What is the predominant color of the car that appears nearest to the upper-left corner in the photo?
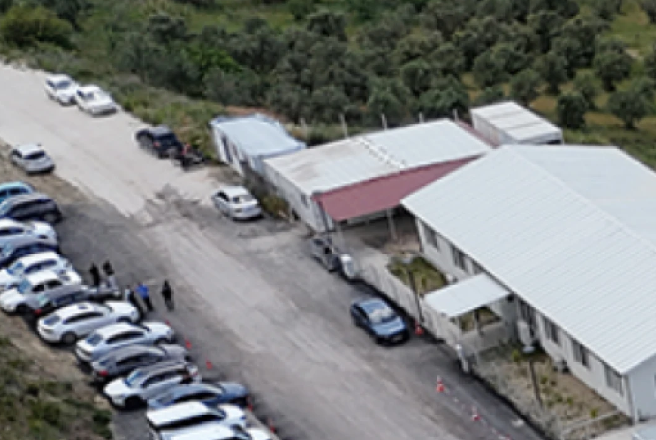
white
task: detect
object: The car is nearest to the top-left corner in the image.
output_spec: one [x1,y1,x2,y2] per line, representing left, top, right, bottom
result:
[37,76,83,111]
